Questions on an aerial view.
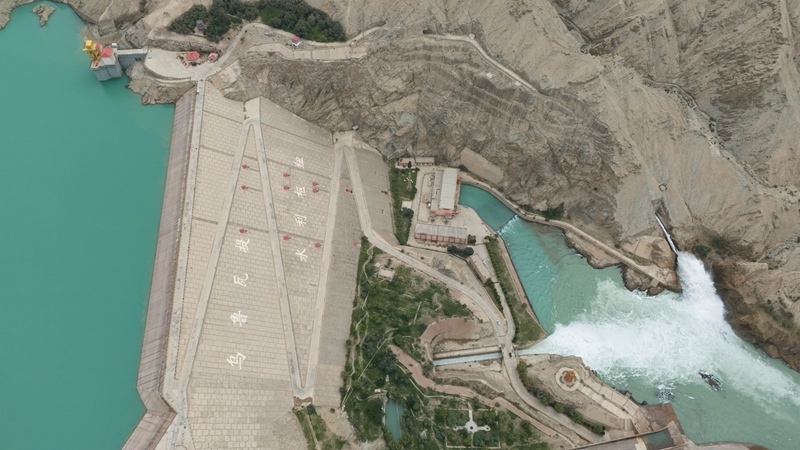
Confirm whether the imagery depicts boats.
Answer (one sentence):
No, there isn't any boat down there.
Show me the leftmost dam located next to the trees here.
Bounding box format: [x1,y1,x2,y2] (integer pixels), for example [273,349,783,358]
[123,80,398,450]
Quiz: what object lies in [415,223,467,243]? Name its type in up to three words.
building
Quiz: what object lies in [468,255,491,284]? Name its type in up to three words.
building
